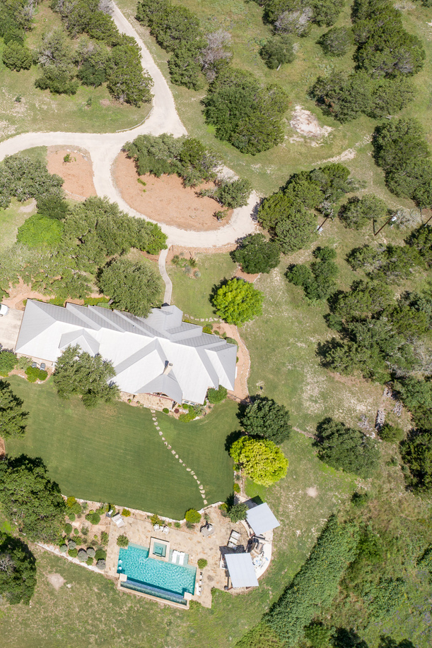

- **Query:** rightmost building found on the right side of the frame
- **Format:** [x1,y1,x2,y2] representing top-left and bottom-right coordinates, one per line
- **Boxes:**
[243,503,280,537]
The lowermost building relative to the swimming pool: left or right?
on its right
